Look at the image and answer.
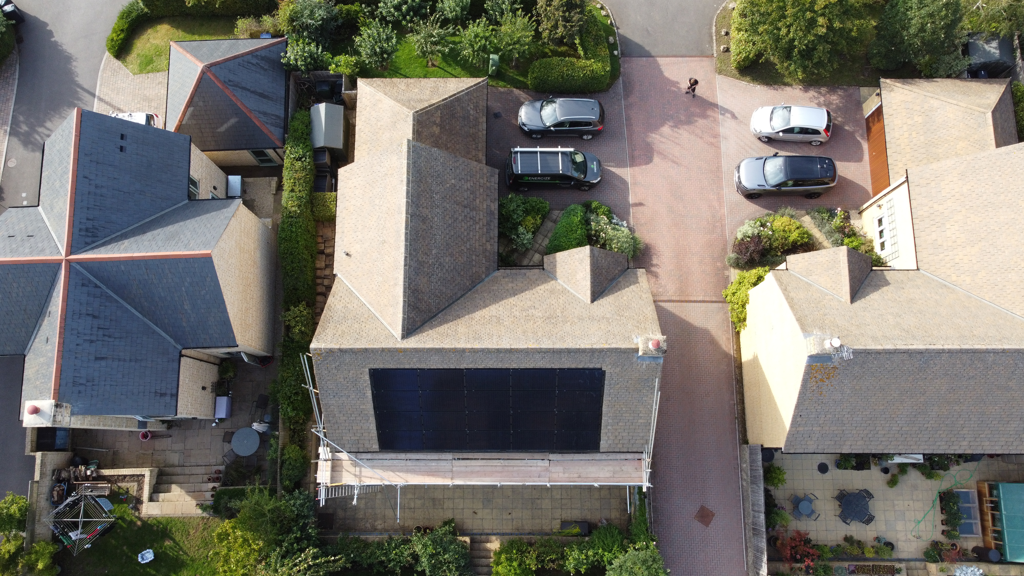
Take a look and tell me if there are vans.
Yes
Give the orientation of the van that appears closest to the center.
horizontally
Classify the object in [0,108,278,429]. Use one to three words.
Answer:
house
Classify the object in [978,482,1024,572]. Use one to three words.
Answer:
greenhouse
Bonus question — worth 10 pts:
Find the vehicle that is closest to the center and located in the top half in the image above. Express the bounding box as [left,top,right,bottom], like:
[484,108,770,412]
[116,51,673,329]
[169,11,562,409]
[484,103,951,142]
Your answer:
[505,146,603,193]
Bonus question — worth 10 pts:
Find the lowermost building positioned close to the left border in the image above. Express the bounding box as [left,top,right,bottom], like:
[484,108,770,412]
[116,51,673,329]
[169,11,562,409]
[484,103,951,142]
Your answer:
[42,428,80,451]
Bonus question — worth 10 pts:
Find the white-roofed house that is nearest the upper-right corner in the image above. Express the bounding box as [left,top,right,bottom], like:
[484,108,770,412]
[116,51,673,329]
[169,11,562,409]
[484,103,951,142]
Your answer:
[736,76,1024,456]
